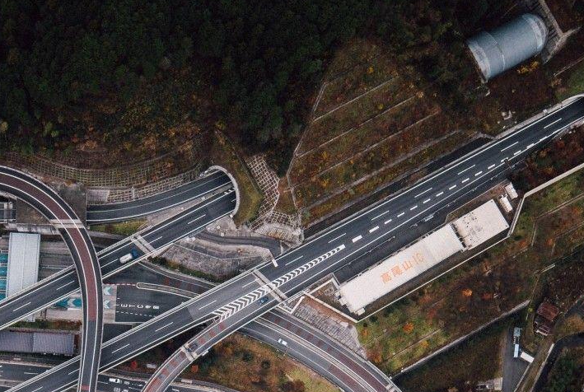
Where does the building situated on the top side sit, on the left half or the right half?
right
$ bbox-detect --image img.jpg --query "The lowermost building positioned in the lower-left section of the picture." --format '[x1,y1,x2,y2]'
[0,329,80,357]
